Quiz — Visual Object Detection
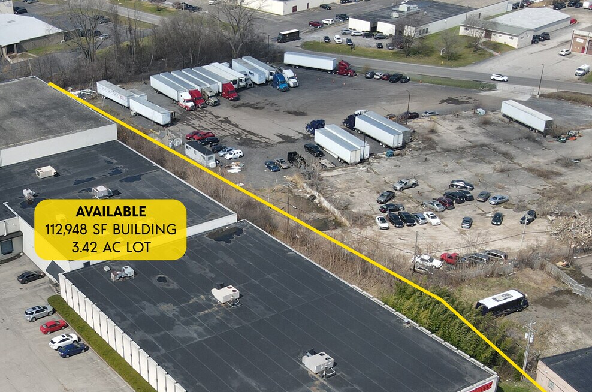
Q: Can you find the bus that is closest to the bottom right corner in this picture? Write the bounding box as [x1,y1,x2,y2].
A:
[472,282,536,318]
